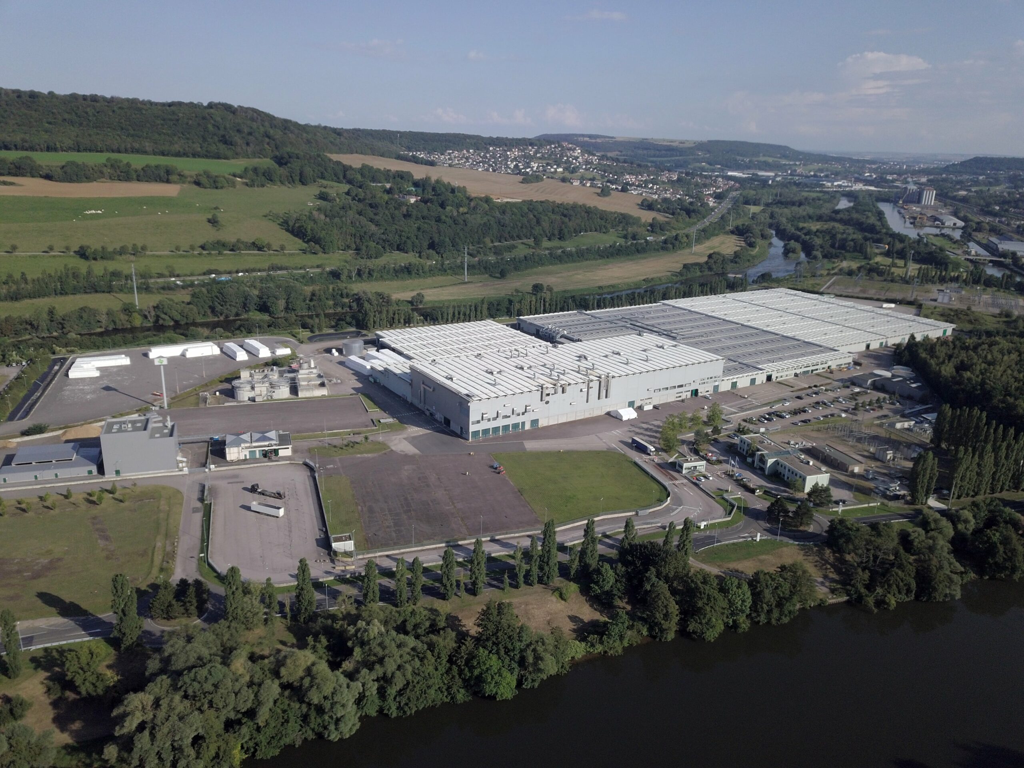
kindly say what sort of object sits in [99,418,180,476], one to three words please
building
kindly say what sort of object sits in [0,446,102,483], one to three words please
shed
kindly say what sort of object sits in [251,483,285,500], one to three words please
vehicle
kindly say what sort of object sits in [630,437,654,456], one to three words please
vehicle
